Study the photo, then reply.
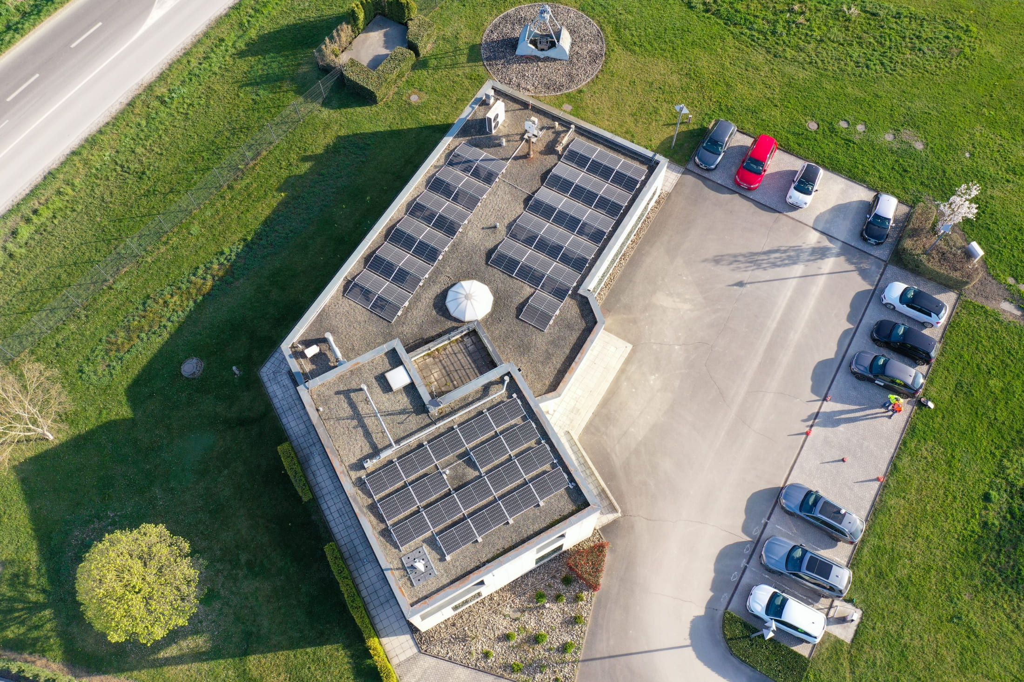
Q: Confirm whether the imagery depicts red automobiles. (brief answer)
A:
Yes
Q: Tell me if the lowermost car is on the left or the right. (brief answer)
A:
right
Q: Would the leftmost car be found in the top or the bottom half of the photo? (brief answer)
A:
top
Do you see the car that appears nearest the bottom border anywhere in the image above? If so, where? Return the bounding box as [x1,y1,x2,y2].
[743,586,833,651]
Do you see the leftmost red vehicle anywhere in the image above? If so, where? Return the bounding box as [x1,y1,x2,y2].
[737,134,782,190]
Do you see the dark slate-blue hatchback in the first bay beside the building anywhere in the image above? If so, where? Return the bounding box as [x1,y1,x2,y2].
[694,117,739,173]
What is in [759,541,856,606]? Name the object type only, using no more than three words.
car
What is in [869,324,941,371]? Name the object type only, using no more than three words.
car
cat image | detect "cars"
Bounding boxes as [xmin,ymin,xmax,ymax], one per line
[776,485,869,548]
[694,117,739,173]
[859,191,902,246]
[759,541,856,606]
[737,134,782,190]
[785,160,824,209]
[869,324,941,371]
[743,586,833,651]
[879,288,949,334]
[848,357,927,408]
